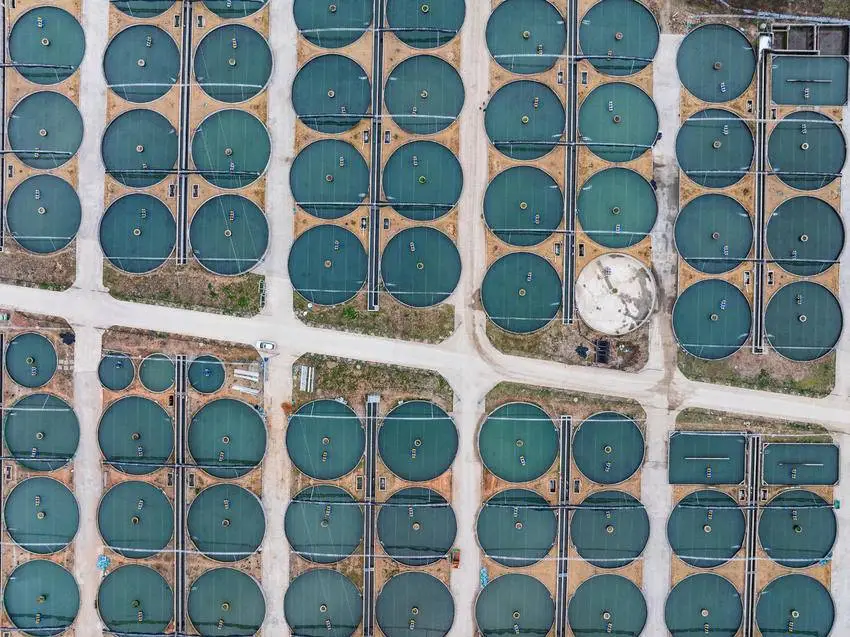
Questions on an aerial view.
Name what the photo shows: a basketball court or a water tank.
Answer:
water tank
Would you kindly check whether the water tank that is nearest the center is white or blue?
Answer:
blue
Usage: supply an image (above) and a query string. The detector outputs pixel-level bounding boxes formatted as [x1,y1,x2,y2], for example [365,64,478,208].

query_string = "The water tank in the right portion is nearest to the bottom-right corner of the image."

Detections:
[756,572,835,637]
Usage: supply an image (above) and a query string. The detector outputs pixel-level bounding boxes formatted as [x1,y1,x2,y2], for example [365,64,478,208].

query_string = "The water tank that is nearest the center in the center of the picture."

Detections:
[381,226,462,307]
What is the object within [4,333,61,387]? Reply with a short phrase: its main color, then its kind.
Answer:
blue water tank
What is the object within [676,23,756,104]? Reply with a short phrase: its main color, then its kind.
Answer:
blue water tank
